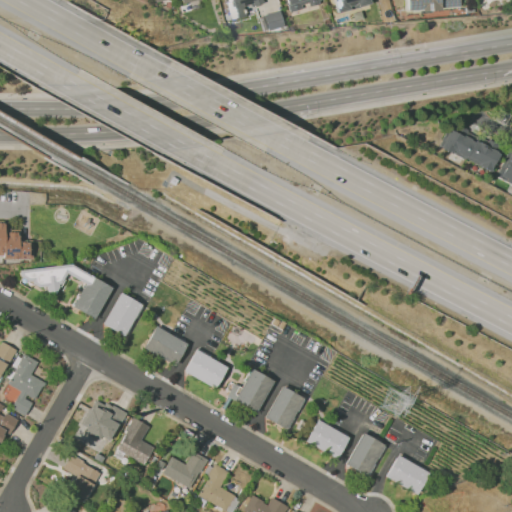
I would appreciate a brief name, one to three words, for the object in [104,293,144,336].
building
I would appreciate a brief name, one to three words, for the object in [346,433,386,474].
building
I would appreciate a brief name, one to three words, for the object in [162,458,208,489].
house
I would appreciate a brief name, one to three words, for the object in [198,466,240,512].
house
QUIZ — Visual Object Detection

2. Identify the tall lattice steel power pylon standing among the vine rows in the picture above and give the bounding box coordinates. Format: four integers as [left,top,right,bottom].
[380,388,416,416]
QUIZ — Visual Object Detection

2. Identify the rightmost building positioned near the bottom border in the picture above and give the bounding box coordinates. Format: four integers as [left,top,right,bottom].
[384,454,428,493]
